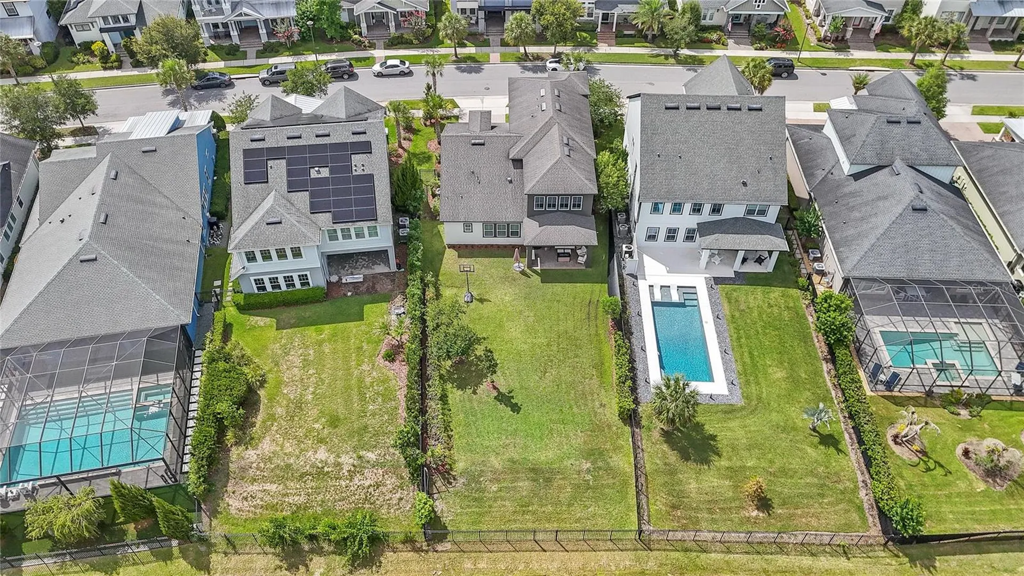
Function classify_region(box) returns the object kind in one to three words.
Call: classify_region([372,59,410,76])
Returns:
car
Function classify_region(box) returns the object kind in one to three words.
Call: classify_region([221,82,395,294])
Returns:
house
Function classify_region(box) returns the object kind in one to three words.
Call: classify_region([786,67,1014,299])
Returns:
house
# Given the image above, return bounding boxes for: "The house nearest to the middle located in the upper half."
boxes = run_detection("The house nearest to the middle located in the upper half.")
[437,70,599,268]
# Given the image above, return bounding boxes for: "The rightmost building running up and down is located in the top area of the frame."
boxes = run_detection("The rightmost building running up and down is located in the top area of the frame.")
[950,116,1024,294]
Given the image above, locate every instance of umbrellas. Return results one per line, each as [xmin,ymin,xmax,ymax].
[512,247,525,273]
